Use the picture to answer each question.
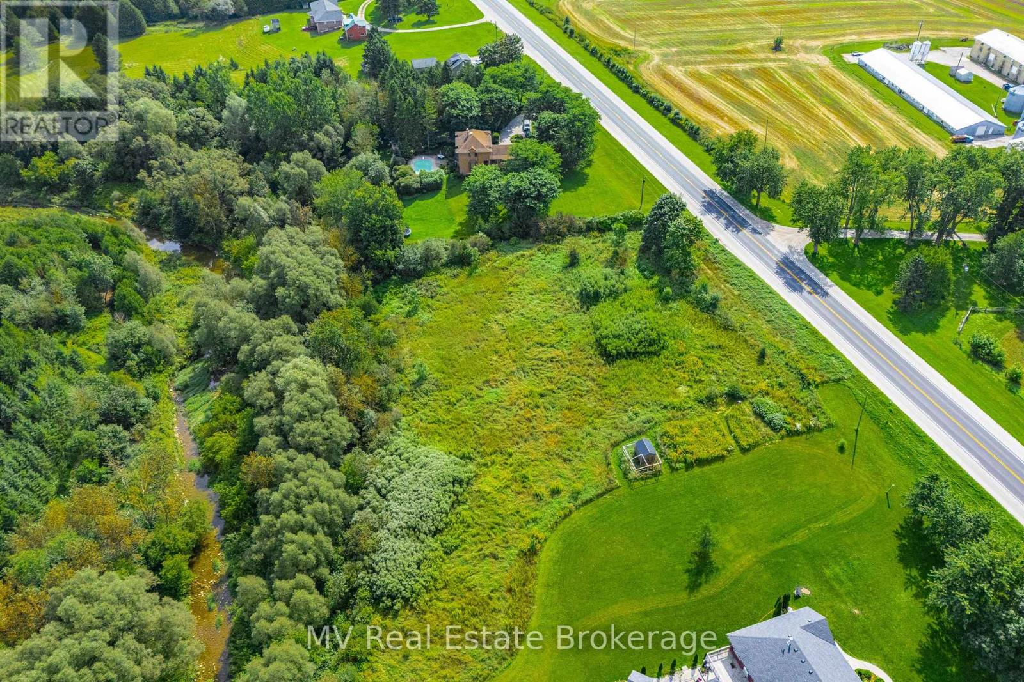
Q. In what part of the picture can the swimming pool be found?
top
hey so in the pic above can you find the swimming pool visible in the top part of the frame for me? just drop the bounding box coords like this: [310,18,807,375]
[406,153,442,175]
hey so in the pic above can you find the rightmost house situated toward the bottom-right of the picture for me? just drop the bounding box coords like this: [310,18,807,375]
[706,607,861,682]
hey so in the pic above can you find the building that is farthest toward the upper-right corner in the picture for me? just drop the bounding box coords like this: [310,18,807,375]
[970,31,1024,83]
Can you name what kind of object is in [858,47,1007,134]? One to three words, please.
barn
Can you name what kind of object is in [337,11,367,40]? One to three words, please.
building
